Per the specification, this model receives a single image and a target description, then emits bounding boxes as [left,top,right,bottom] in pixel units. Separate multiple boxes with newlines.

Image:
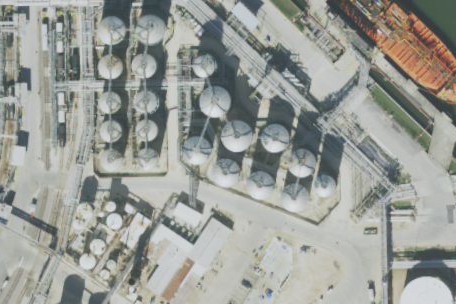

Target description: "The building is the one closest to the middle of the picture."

[172,202,204,229]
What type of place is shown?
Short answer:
industrial area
